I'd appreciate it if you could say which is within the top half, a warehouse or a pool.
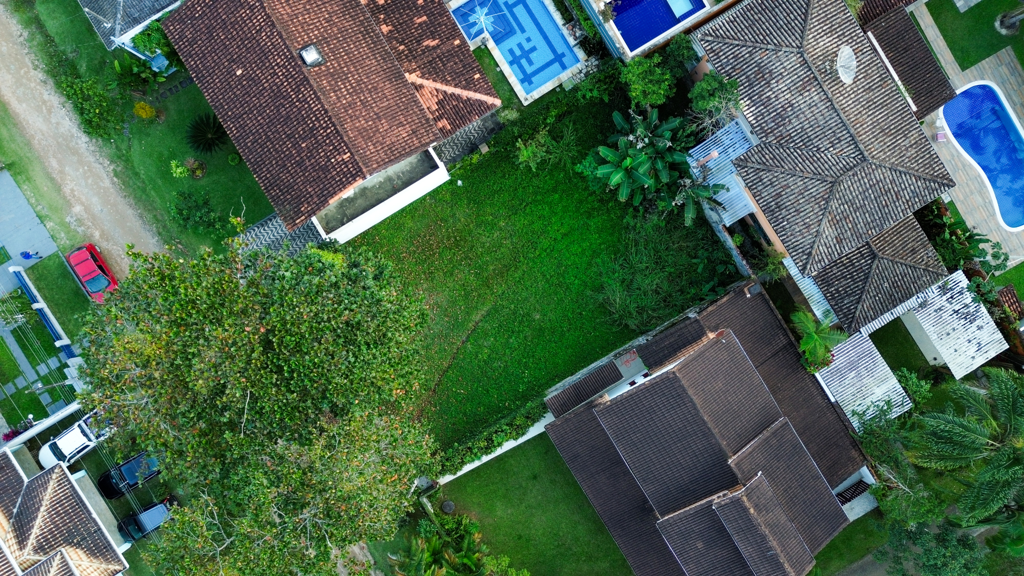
pool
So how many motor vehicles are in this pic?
four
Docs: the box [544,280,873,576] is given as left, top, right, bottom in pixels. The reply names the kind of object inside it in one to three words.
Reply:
house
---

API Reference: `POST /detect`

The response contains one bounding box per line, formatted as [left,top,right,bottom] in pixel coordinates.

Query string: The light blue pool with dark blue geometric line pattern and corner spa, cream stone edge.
[447,0,587,108]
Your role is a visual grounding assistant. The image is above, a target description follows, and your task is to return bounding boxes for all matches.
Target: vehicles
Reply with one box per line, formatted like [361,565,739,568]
[103,444,178,498]
[122,490,176,542]
[35,400,127,468]
[68,235,126,302]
